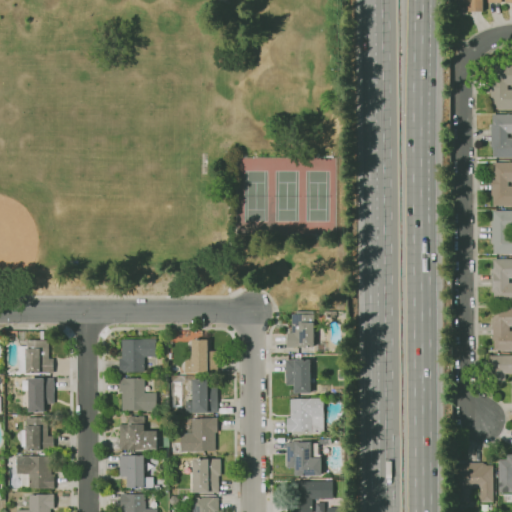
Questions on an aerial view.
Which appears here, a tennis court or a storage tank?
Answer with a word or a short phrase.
tennis court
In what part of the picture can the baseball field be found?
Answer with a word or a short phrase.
left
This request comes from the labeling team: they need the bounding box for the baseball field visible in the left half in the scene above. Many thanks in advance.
[0,194,40,273]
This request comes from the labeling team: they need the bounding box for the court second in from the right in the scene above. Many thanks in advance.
[273,158,303,238]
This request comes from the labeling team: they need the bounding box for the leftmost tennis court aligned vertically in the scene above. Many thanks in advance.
[242,158,273,238]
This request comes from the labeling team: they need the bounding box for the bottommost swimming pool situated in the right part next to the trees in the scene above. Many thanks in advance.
[328,446,342,470]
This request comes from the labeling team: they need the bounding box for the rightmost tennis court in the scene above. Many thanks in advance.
[303,158,337,238]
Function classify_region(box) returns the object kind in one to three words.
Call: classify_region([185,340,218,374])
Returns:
house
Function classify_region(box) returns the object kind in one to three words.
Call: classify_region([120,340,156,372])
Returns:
house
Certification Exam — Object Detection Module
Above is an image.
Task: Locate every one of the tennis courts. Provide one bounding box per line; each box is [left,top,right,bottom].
[242,158,273,238]
[303,158,337,238]
[273,158,303,238]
